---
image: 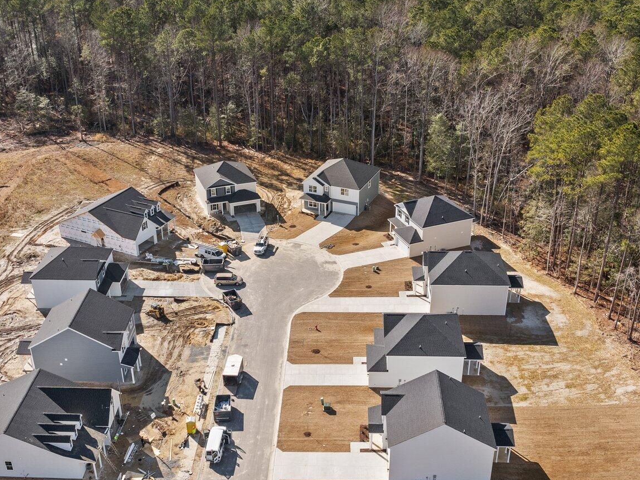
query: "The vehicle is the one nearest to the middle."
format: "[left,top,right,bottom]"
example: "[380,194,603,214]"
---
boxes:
[250,229,272,251]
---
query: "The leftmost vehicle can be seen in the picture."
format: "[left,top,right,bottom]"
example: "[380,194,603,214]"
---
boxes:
[142,303,167,322]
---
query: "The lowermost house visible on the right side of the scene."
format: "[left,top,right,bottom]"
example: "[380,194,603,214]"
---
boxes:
[369,368,517,480]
